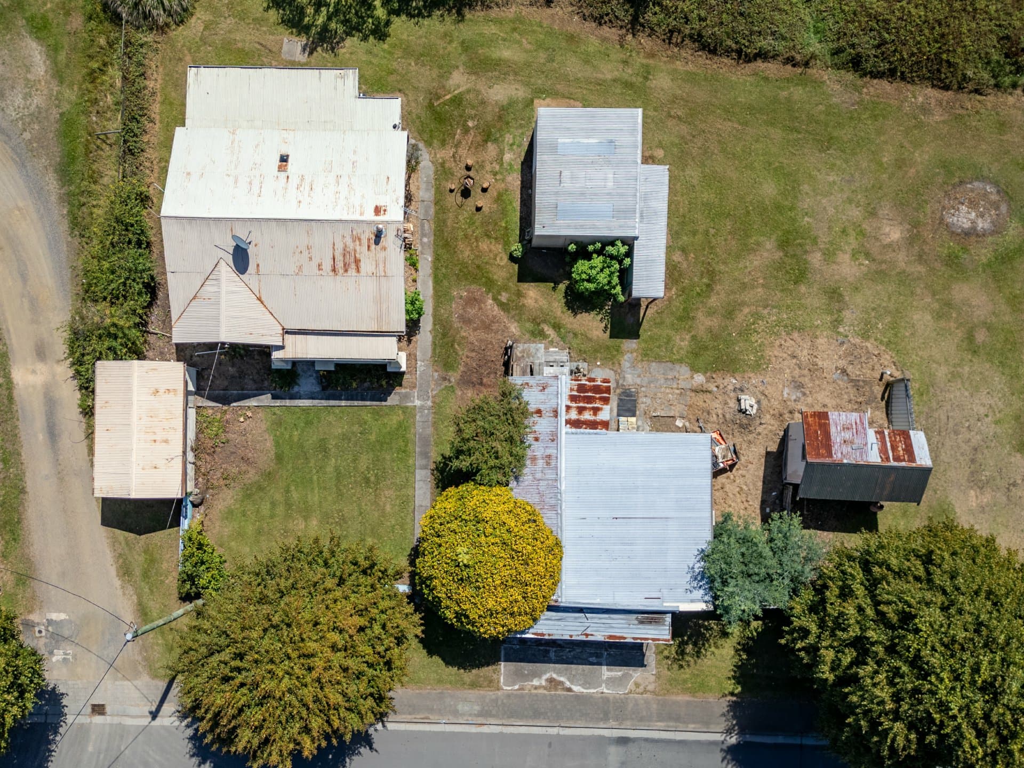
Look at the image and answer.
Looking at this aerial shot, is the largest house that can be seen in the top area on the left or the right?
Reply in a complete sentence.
You can find the largest house that can be seen in the top area on the left side of the picture.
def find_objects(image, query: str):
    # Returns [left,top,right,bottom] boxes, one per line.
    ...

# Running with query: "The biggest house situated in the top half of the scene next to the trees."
[144,63,408,367]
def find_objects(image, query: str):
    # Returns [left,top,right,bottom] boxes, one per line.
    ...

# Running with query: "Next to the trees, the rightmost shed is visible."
[782,410,934,513]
